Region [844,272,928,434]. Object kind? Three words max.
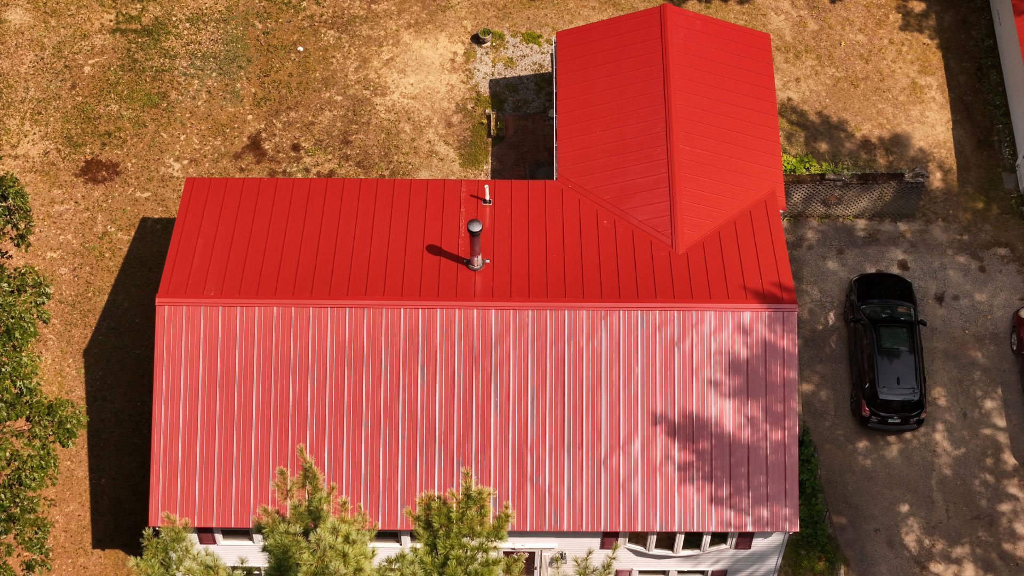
car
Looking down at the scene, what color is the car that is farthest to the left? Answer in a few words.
black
